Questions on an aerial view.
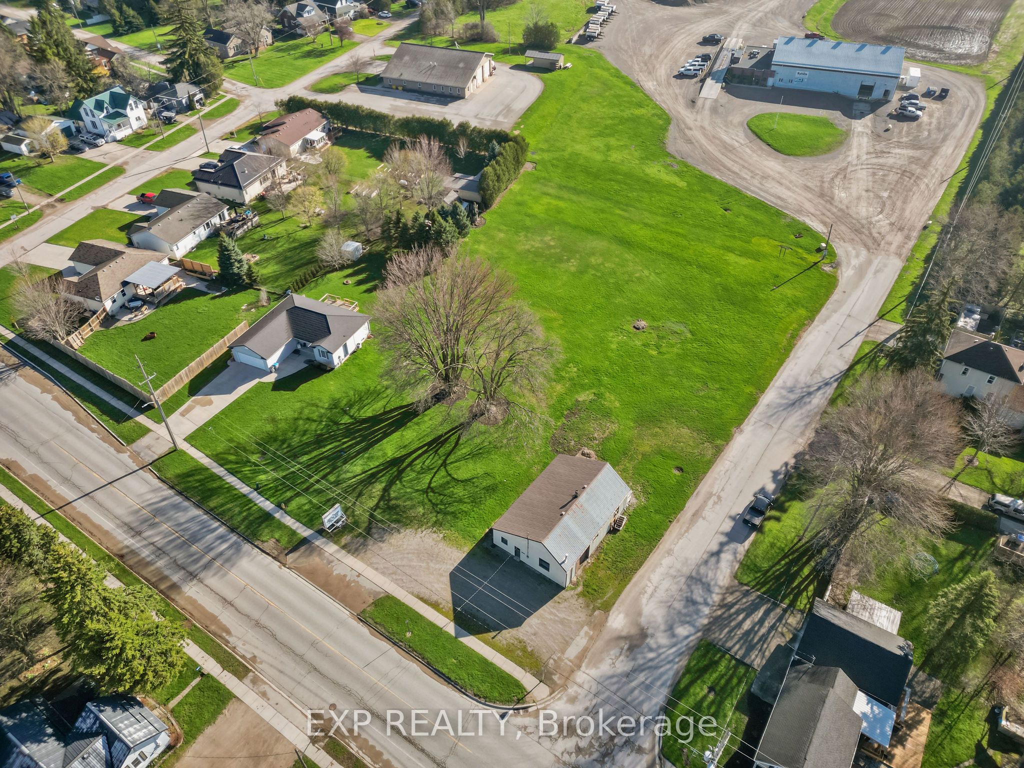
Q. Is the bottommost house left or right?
left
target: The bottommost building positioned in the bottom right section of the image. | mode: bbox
[755,599,919,768]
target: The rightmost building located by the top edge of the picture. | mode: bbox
[771,33,902,100]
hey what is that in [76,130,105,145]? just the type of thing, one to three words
vehicle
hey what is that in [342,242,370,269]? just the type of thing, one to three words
greenhouse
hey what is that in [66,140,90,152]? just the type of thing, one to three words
vehicle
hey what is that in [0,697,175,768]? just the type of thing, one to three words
house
